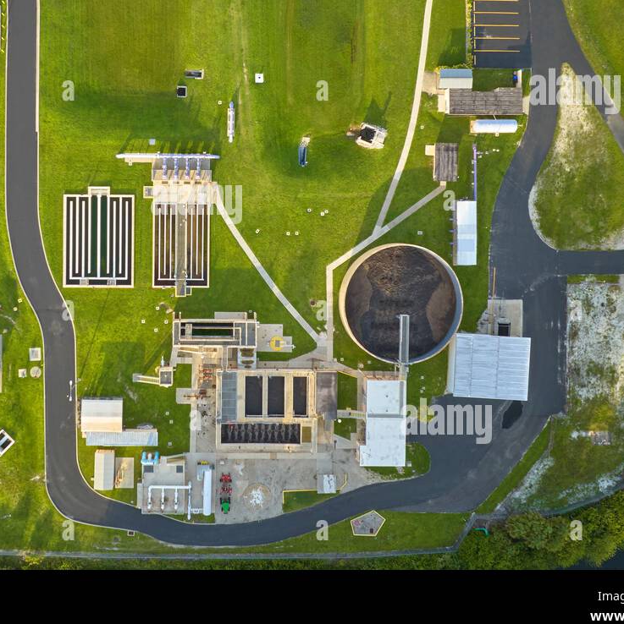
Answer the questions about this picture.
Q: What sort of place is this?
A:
industrial area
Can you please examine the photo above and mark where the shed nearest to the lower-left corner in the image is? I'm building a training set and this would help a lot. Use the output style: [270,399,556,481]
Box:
[95,450,115,491]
